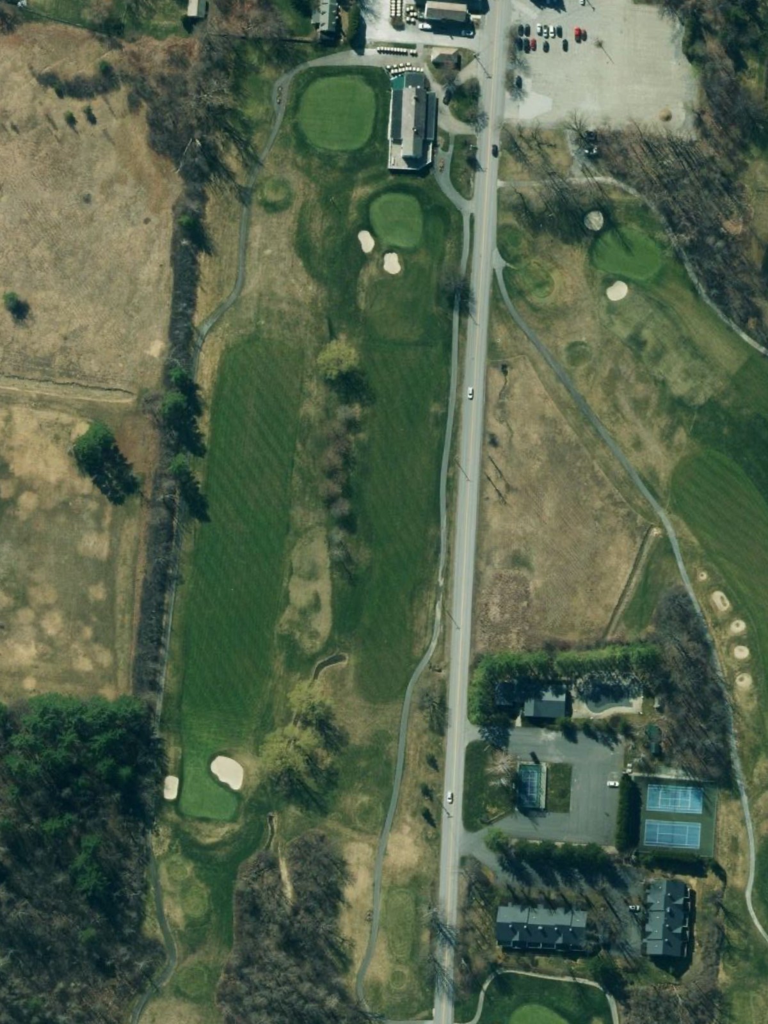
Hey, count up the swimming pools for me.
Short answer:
1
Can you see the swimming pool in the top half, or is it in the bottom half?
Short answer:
bottom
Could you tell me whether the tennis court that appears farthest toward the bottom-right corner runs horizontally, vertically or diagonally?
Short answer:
horizontally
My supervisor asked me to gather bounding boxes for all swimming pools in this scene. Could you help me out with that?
[570,671,643,719]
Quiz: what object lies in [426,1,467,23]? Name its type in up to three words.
house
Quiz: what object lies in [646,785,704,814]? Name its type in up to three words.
tennis court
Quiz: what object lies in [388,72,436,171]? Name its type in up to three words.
building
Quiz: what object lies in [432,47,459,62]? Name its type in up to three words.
building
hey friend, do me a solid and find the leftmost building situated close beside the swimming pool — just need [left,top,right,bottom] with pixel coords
[524,683,566,717]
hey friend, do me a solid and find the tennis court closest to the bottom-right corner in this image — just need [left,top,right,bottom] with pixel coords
[644,820,701,849]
